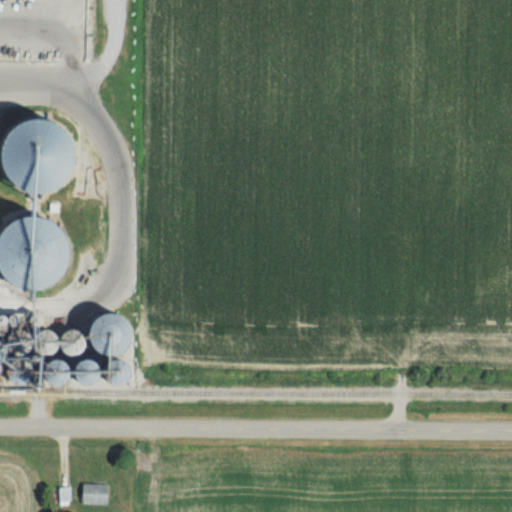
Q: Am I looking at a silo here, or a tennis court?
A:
silo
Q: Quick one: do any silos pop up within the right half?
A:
No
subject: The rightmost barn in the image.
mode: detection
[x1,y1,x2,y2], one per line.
[83,484,108,505]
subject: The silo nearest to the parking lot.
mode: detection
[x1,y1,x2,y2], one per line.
[1,115,78,201]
